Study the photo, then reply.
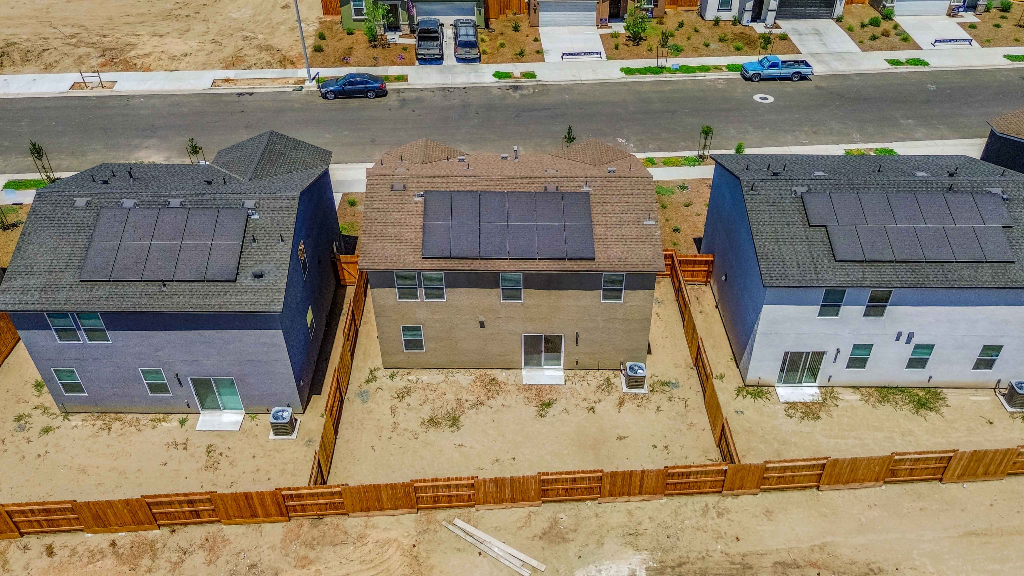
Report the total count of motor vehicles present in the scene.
4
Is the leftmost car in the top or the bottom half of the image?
top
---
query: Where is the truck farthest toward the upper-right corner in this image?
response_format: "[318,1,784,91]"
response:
[735,51,815,80]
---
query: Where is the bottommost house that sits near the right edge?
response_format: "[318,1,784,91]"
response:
[700,156,1024,386]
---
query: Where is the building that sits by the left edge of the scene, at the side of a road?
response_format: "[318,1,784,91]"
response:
[0,131,342,414]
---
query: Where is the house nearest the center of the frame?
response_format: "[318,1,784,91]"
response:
[360,137,668,369]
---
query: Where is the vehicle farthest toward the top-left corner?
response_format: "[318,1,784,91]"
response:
[315,70,390,98]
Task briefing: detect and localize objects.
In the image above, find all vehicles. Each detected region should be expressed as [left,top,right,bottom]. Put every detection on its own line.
[416,18,449,58]
[735,51,815,80]
[315,70,390,98]
[454,19,484,55]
